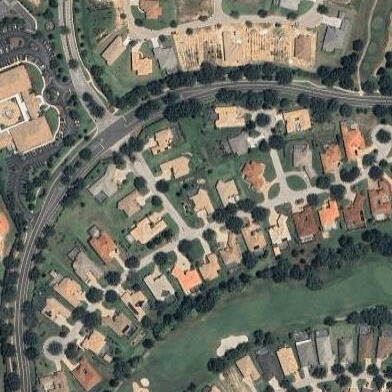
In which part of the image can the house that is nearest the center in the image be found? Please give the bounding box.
[192,184,213,217]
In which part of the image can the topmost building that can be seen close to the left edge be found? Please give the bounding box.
[0,64,56,161]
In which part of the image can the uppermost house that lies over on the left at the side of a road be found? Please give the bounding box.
[139,0,161,19]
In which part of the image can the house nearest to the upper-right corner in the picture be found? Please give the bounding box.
[322,23,345,52]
